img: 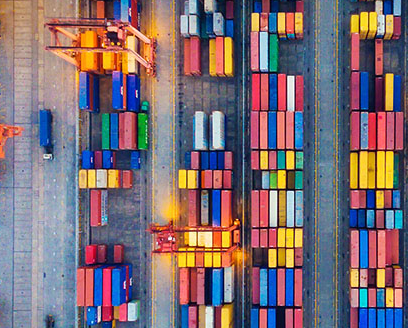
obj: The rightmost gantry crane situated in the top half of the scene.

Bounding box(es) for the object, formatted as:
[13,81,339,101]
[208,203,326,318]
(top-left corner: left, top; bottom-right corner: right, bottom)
[43,19,153,73]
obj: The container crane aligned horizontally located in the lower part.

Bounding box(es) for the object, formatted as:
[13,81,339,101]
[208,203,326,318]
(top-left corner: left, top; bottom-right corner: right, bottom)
[149,217,240,258]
